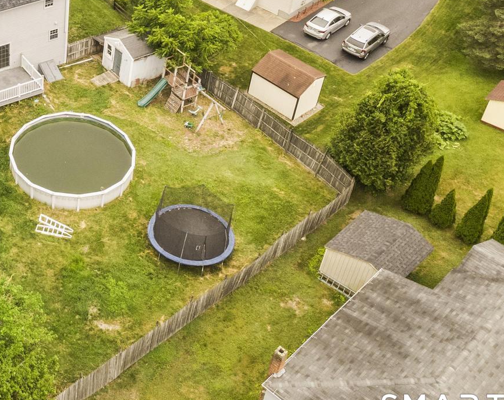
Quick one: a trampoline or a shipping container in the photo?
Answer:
trampoline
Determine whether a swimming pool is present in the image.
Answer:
Yes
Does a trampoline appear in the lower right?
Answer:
No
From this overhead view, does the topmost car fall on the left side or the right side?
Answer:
right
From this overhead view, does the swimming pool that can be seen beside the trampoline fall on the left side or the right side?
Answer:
left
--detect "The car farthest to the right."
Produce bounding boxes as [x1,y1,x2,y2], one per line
[340,22,392,62]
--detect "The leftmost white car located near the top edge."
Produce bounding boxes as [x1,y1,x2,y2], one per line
[303,6,355,41]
